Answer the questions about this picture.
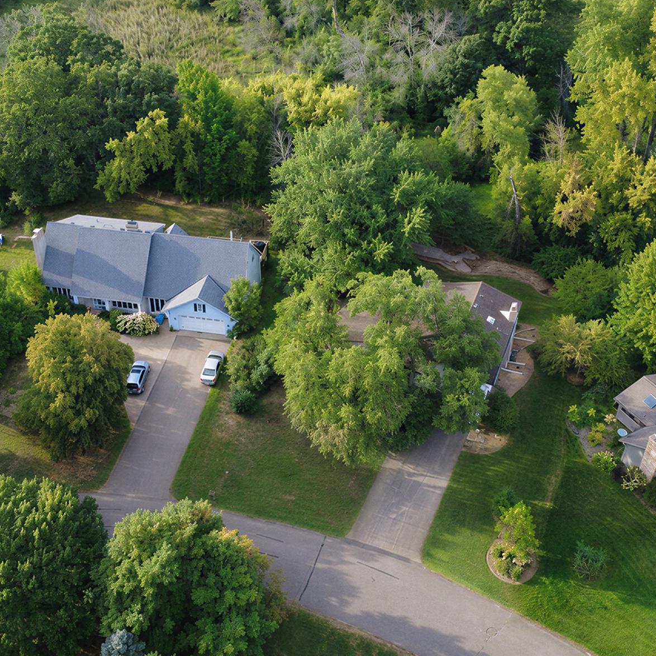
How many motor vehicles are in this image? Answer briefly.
2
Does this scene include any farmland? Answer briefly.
No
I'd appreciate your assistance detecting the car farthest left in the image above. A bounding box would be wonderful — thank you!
[126,358,150,393]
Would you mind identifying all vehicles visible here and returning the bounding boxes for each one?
[199,350,222,385]
[126,358,150,393]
